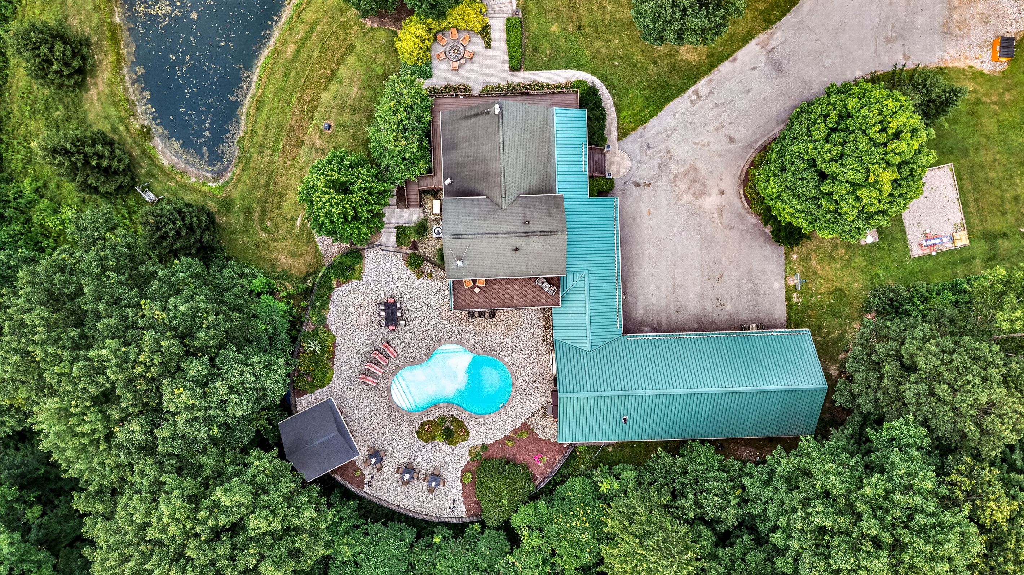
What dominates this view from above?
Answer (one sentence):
The largest share of the image is taken up by trees.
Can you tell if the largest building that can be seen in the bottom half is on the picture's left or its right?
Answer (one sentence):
You can find the largest building that can be seen in the bottom half on the right side of the picture.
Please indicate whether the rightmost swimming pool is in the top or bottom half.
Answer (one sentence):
The bottom half of the photo is where the rightmost swimming pool is.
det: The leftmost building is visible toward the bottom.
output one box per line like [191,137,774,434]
[279,394,366,483]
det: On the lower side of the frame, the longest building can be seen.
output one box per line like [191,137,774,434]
[554,328,829,444]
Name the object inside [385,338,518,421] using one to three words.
swimming pool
